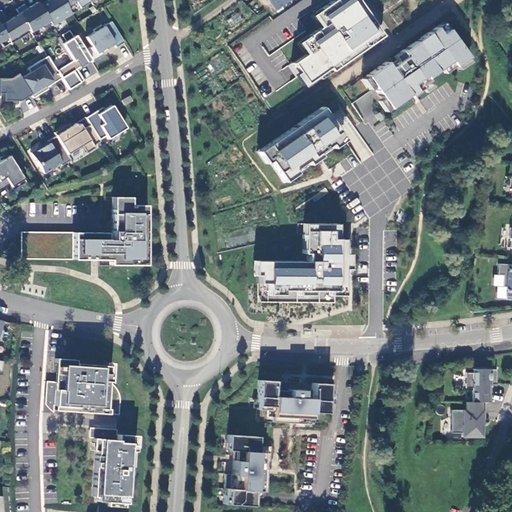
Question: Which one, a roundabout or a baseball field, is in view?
roundabout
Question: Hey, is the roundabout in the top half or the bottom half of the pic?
bottom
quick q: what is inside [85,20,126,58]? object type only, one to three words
house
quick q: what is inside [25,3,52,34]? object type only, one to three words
house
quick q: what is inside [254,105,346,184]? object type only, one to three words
building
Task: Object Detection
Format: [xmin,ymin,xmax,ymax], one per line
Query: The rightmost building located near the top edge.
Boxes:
[358,19,475,116]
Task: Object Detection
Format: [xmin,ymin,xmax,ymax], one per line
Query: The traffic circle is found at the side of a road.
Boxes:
[122,270,258,405]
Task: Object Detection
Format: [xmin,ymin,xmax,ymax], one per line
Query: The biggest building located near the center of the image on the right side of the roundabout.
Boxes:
[250,222,356,304]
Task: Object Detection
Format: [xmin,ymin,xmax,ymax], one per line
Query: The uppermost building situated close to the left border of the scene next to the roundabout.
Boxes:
[20,197,152,267]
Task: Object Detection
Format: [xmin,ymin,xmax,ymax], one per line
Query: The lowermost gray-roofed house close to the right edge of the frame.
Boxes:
[450,369,498,438]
